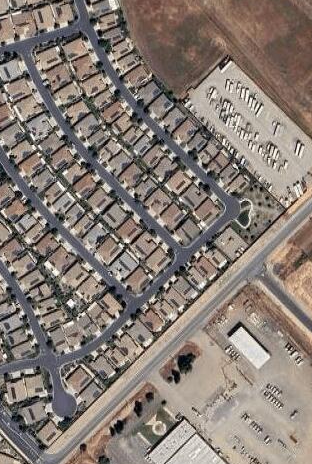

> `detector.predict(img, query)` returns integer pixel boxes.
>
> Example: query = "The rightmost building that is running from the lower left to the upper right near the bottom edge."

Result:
[149,420,196,464]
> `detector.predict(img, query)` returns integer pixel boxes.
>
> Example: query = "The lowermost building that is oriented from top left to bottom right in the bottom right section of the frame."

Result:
[230,327,271,369]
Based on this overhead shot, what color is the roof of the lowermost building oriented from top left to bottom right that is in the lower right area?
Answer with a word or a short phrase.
white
